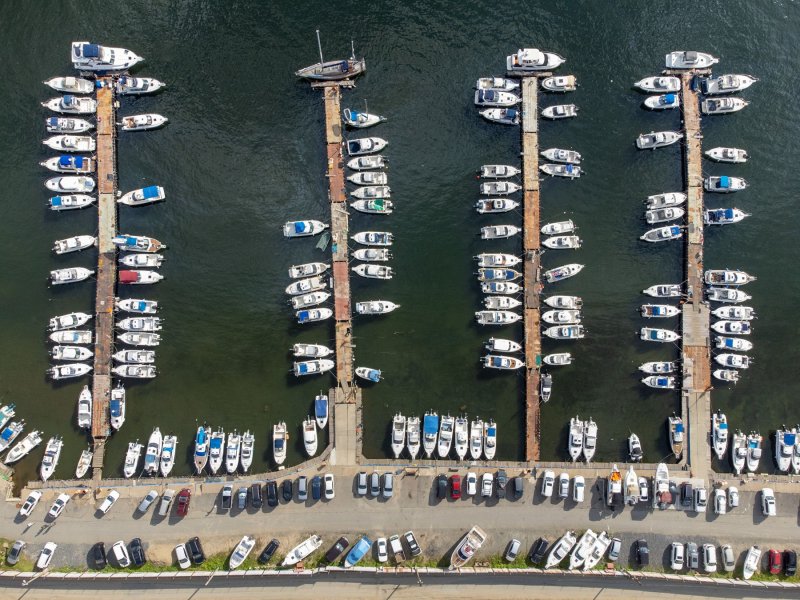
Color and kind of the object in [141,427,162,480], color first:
white boat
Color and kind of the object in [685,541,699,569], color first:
gray vehicle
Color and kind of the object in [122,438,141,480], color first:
white boat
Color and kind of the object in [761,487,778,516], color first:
white car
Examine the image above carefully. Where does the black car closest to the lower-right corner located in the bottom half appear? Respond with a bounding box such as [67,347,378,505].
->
[783,548,798,577]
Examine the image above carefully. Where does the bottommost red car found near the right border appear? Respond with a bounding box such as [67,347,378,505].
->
[768,548,781,573]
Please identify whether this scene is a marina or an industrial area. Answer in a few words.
marina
